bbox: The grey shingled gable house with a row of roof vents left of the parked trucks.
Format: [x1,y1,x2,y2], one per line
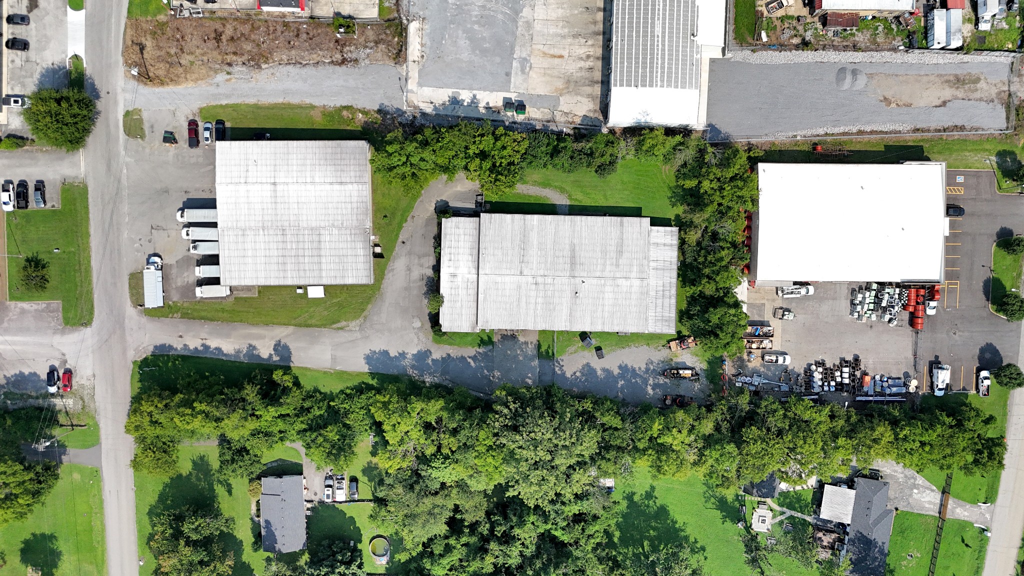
[261,476,308,552]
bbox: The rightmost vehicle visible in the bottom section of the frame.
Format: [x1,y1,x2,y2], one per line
[977,369,991,398]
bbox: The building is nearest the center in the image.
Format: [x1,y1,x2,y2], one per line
[440,213,679,335]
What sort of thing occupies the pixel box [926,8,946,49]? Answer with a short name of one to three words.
trailer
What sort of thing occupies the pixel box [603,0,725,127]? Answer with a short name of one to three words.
shed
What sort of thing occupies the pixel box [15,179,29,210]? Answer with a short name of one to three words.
vehicle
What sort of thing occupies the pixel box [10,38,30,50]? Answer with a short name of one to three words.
vehicle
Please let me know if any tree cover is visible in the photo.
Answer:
Yes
